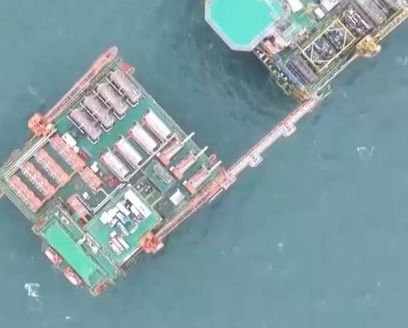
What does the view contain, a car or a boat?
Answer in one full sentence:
It is a boat that can be seen here.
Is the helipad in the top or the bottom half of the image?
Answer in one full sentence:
You can find the helipad in the top half.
